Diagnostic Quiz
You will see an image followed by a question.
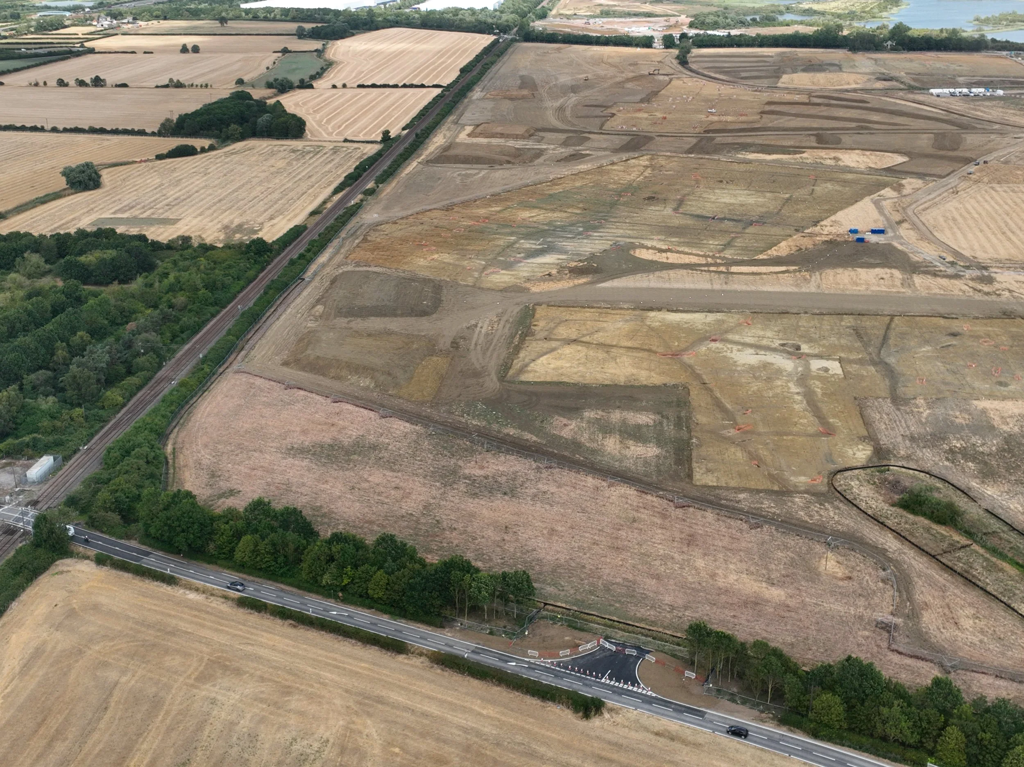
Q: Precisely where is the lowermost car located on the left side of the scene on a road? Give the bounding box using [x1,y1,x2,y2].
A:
[225,579,246,592]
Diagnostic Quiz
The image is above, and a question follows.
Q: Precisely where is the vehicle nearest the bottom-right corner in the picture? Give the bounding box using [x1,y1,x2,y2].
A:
[726,725,750,741]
